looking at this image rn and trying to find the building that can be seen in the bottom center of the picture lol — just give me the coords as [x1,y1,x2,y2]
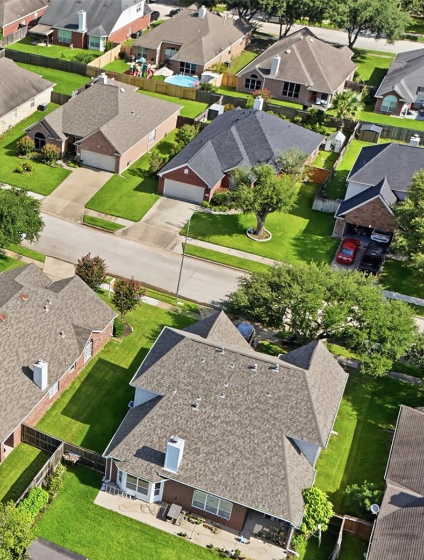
[100,307,351,560]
